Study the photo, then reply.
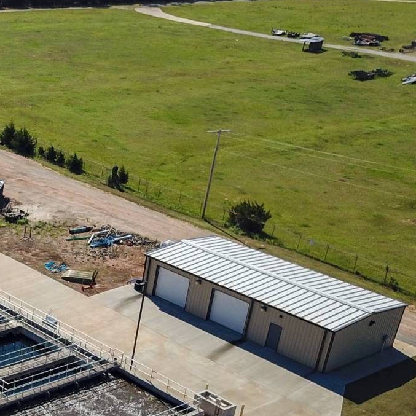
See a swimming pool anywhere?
No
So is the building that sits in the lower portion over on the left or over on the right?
right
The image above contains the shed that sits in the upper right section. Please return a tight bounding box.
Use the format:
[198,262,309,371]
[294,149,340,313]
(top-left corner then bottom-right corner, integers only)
[300,37,333,52]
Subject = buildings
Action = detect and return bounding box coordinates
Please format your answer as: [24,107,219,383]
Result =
[300,37,333,52]
[137,232,406,376]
